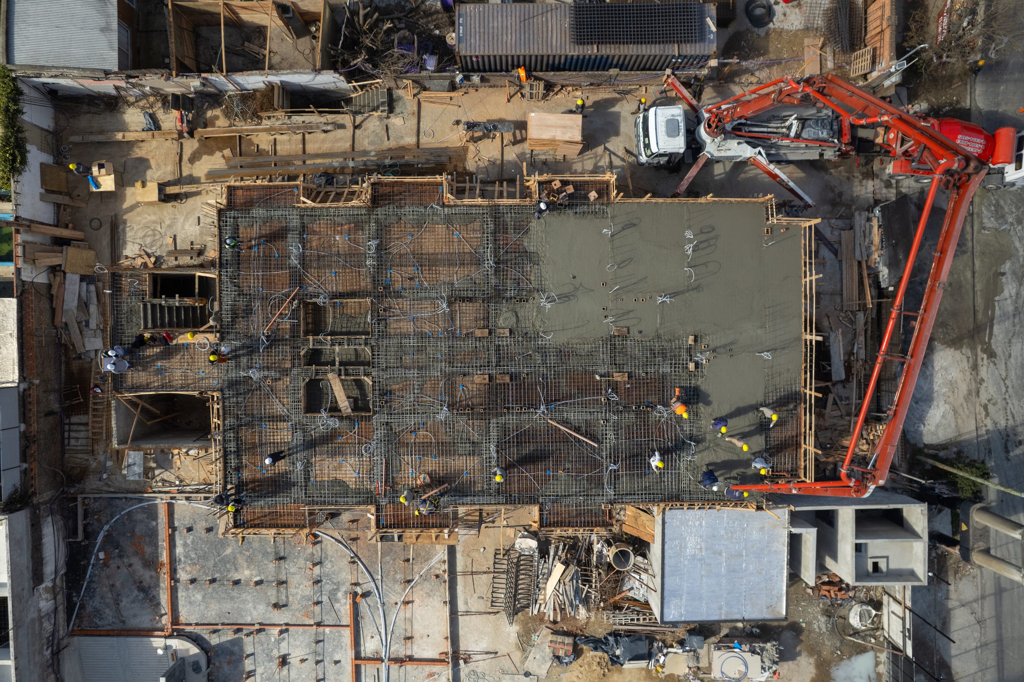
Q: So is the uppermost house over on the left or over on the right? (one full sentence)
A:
The uppermost house appears in the left half of the scene.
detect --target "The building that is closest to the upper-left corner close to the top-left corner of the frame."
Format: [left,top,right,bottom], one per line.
[0,0,151,98]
